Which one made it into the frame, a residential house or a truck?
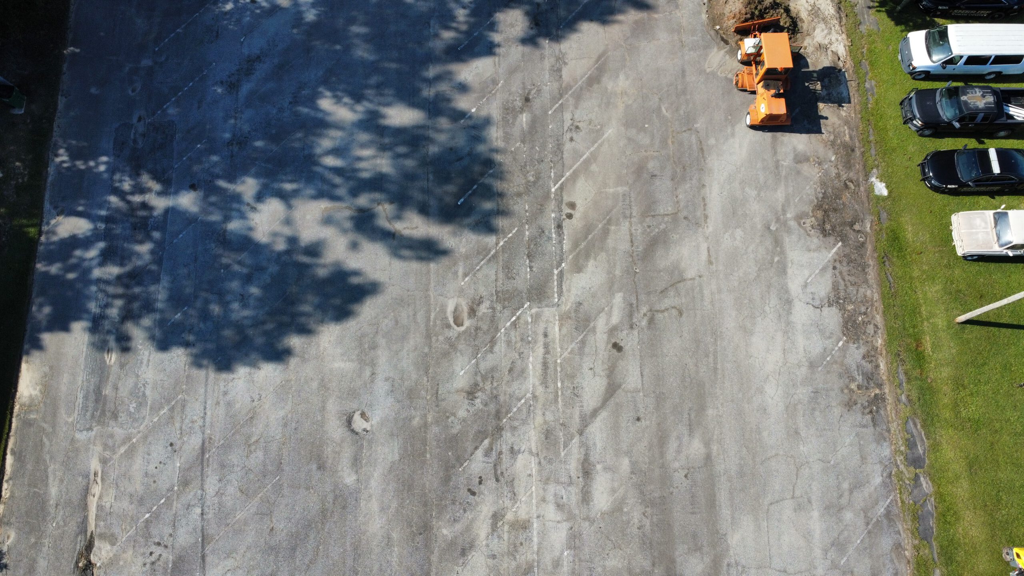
truck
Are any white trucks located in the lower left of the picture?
No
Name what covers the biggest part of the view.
paved ground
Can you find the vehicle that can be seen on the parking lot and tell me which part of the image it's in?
top right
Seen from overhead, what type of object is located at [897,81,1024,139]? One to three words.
truck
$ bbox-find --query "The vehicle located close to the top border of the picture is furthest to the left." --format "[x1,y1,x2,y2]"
[726,17,801,129]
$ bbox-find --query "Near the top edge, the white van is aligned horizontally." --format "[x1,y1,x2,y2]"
[897,22,1024,81]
